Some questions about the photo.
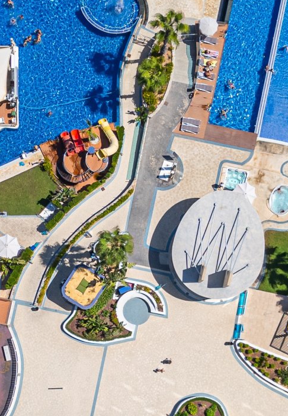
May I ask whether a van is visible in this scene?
No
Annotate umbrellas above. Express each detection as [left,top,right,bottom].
[235,181,256,201]
[0,234,20,260]
[199,17,217,36]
